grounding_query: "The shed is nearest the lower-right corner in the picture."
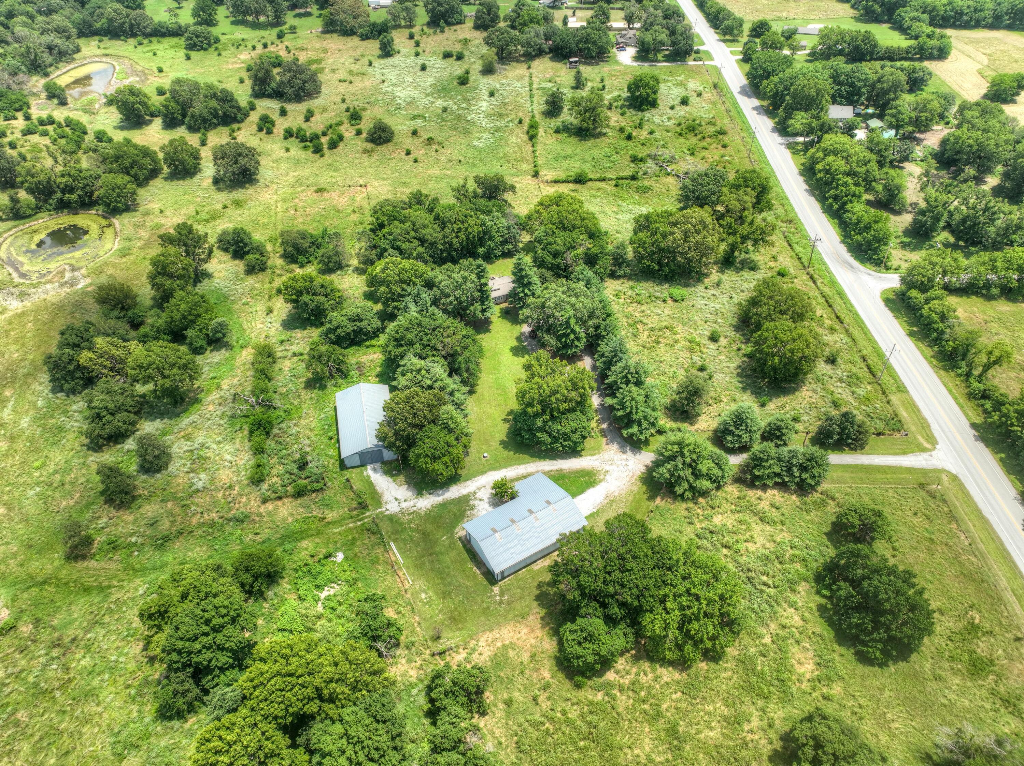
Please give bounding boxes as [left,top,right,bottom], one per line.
[462,472,588,583]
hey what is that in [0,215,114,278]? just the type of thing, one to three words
pond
